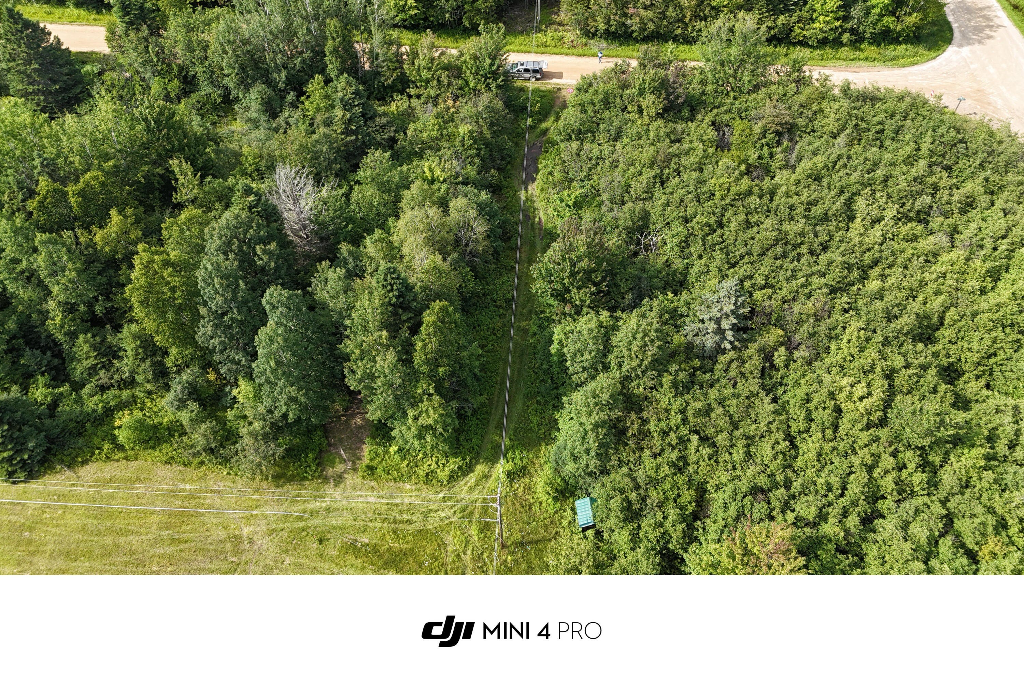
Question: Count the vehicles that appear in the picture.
1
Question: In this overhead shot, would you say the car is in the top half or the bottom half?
top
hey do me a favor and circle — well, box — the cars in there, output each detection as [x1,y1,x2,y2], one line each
[505,59,551,80]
